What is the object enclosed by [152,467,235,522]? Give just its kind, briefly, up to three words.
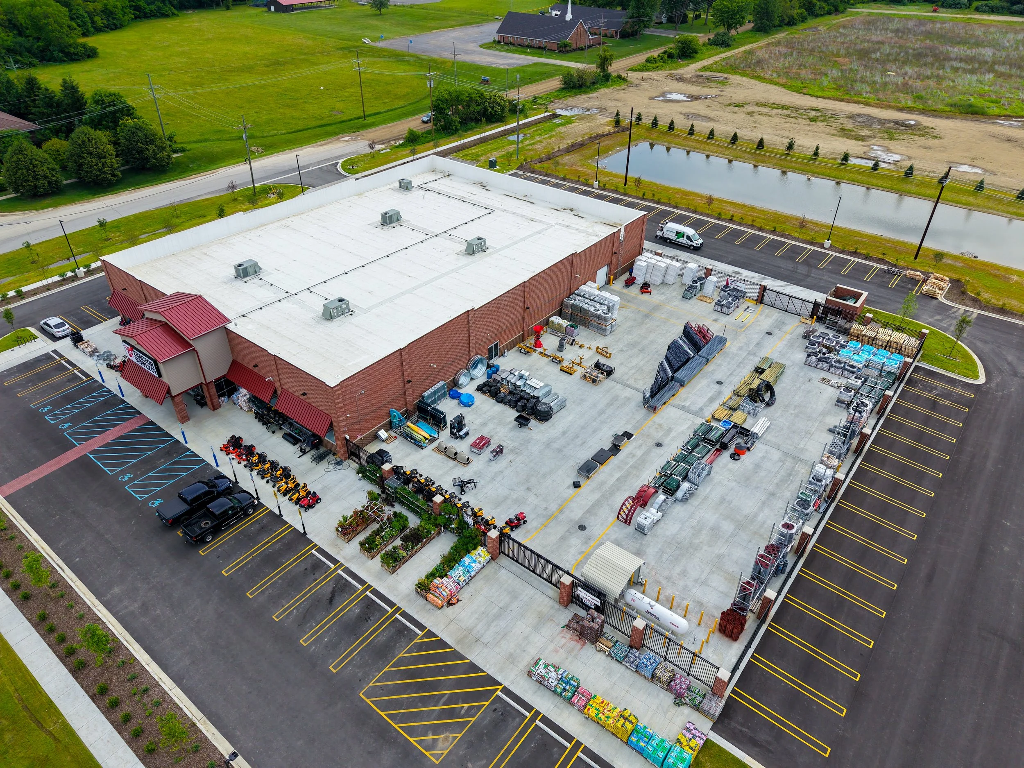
truck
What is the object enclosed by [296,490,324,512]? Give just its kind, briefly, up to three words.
work vehicle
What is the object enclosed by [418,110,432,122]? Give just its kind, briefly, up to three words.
vehicle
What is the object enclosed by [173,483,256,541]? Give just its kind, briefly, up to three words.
truck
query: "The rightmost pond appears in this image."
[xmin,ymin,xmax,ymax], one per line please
[600,143,1024,269]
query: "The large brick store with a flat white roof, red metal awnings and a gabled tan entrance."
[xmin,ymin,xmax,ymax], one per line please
[104,154,643,461]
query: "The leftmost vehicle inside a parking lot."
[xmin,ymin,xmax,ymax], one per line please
[36,312,74,335]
